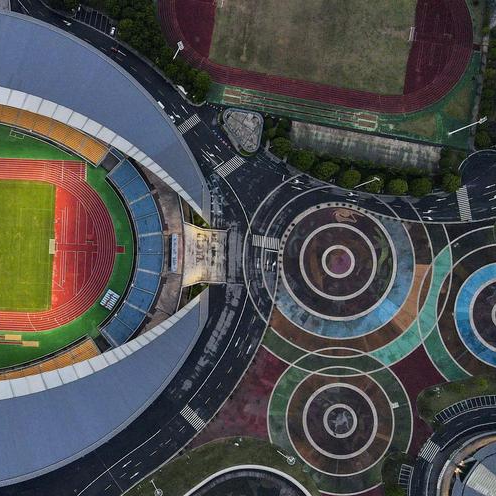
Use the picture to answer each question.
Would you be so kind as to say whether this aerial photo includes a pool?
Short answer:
No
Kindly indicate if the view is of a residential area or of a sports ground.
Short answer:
sports ground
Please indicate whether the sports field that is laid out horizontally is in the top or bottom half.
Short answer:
top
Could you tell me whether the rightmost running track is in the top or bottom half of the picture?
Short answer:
top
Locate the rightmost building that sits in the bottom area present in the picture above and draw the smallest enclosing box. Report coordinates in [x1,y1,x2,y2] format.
[434,431,496,496]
